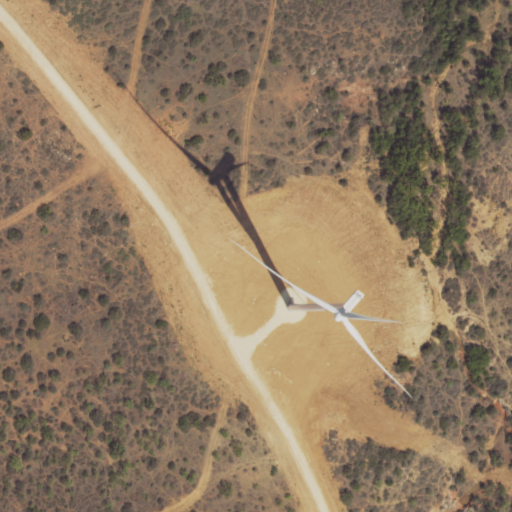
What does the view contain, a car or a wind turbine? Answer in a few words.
wind turbine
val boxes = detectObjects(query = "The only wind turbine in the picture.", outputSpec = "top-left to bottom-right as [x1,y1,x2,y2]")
[234,242,410,398]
